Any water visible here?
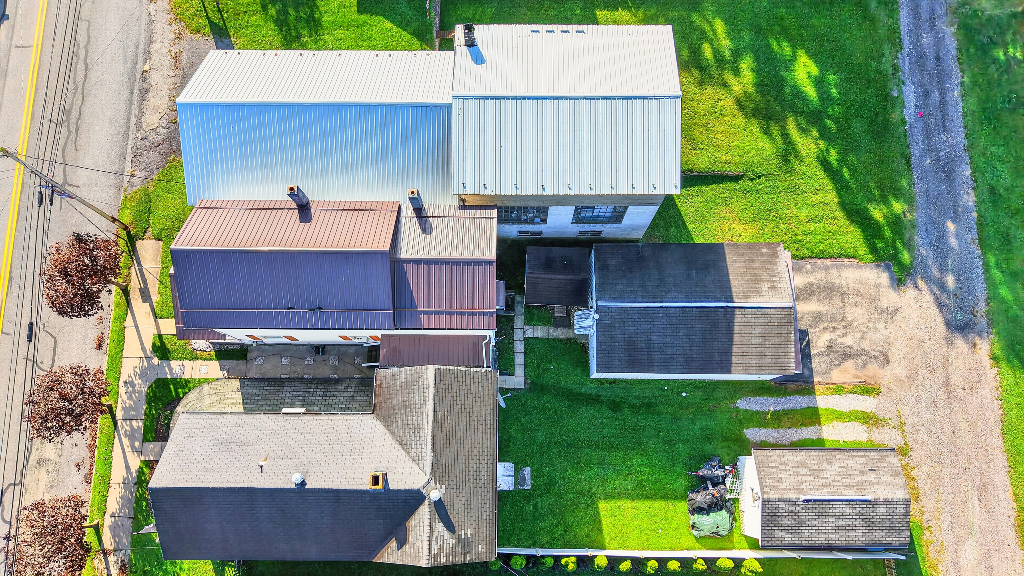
No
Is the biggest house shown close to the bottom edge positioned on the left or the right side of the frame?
left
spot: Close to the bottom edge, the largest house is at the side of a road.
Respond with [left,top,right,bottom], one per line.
[148,363,500,568]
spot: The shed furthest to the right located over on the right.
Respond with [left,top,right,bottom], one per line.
[739,446,912,549]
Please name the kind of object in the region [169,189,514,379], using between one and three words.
house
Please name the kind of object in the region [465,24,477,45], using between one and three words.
chimney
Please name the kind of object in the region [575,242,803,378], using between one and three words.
building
